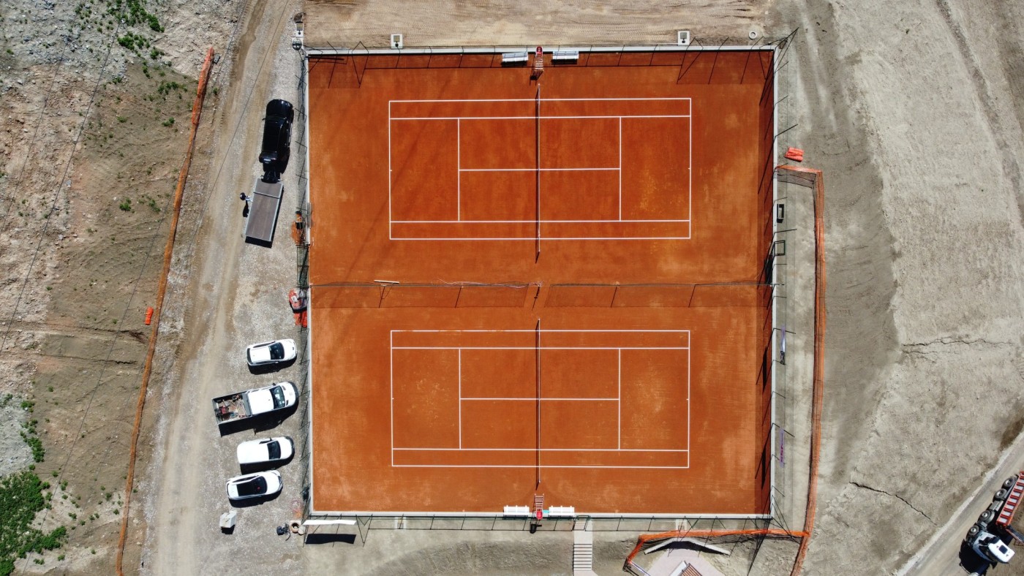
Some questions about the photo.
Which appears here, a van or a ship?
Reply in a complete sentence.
Visible in the photo is a van.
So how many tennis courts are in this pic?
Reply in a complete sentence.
The picture shows 2 tennis courts.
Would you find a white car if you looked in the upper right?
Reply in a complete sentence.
No, the scene shows no white car in the upper right.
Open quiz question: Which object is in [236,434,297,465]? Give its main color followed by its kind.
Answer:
white van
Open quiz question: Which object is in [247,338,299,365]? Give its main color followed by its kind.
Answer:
white car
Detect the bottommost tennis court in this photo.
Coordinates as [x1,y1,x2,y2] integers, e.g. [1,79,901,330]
[313,284,771,514]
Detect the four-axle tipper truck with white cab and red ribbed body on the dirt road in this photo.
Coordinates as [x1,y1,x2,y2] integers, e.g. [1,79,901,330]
[964,475,1024,568]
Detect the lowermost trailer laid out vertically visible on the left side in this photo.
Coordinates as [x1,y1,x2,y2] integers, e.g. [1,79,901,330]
[246,169,282,241]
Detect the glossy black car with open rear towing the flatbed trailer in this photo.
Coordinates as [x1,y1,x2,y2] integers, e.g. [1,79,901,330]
[258,100,294,164]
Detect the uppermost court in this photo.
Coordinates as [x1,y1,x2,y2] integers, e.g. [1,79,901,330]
[310,50,774,285]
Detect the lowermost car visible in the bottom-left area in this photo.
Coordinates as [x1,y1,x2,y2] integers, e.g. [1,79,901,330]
[227,469,284,500]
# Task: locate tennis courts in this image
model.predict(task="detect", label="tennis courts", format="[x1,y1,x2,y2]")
[310,50,774,285]
[313,284,771,514]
